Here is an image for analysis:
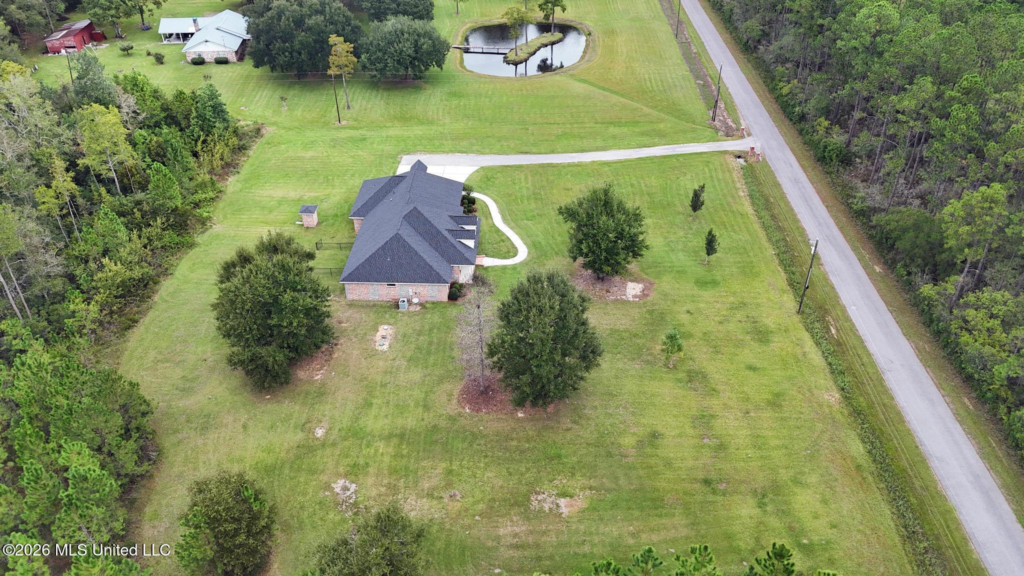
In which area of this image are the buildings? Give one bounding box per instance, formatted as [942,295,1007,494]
[153,10,246,63]
[339,158,485,299]
[298,205,319,227]
[41,22,89,53]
